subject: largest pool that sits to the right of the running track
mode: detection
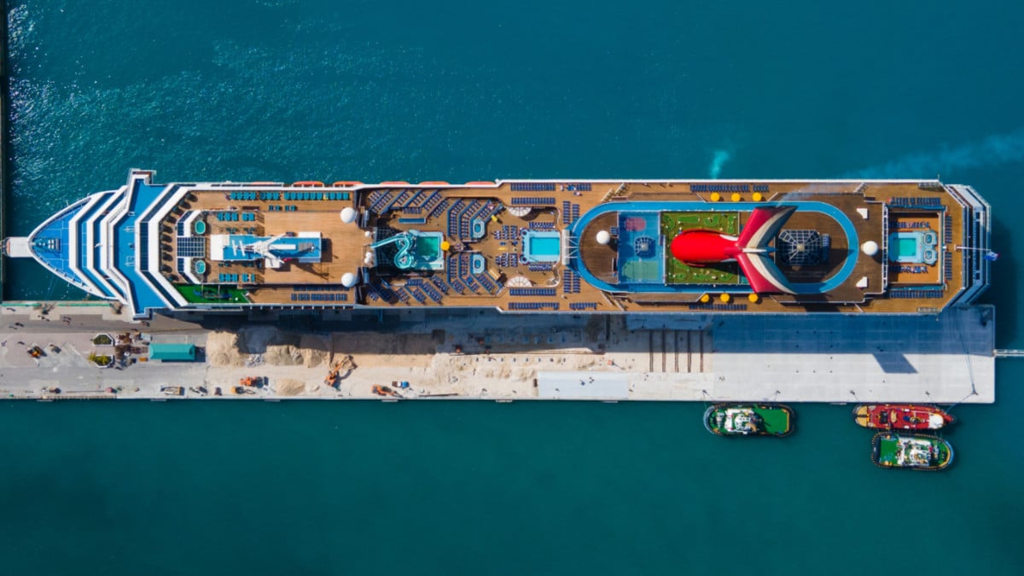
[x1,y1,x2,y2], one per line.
[890,231,922,263]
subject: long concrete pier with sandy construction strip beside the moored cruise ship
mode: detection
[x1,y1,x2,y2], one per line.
[0,300,996,406]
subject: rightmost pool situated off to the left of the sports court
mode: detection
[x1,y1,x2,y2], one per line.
[519,227,560,266]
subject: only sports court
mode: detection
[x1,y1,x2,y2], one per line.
[616,212,669,284]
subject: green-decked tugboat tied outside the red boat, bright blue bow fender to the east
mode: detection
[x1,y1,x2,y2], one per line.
[870,431,956,470]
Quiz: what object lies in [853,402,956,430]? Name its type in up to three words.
boat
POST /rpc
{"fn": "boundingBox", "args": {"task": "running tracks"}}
[573,202,858,293]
